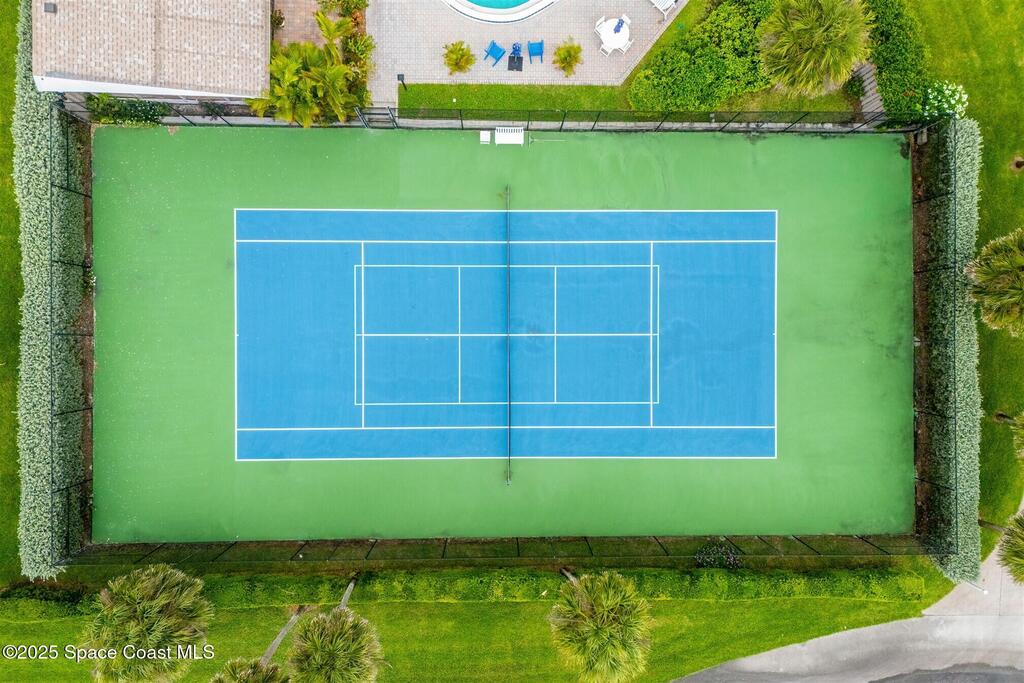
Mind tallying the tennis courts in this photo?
1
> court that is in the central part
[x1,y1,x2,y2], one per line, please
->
[92,125,915,543]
